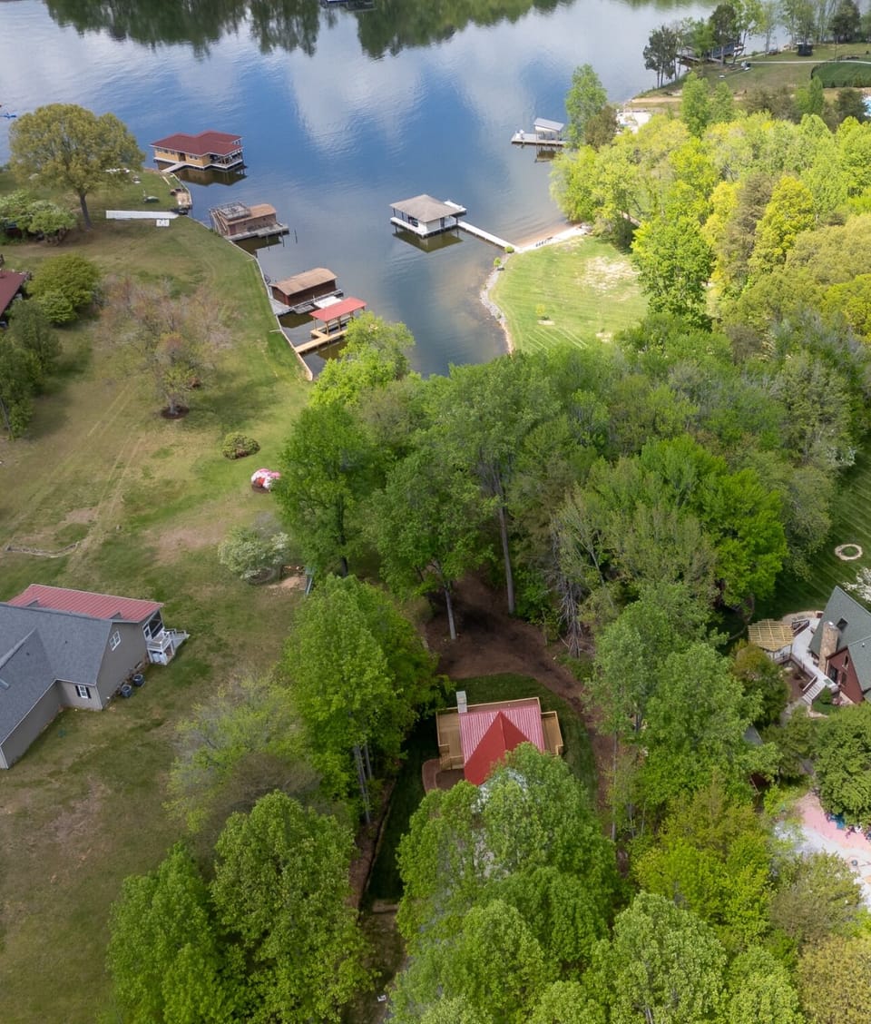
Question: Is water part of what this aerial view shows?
Yes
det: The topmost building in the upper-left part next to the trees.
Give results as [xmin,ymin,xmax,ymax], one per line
[151,132,257,171]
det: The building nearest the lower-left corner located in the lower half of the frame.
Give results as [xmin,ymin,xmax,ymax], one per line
[0,576,197,773]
